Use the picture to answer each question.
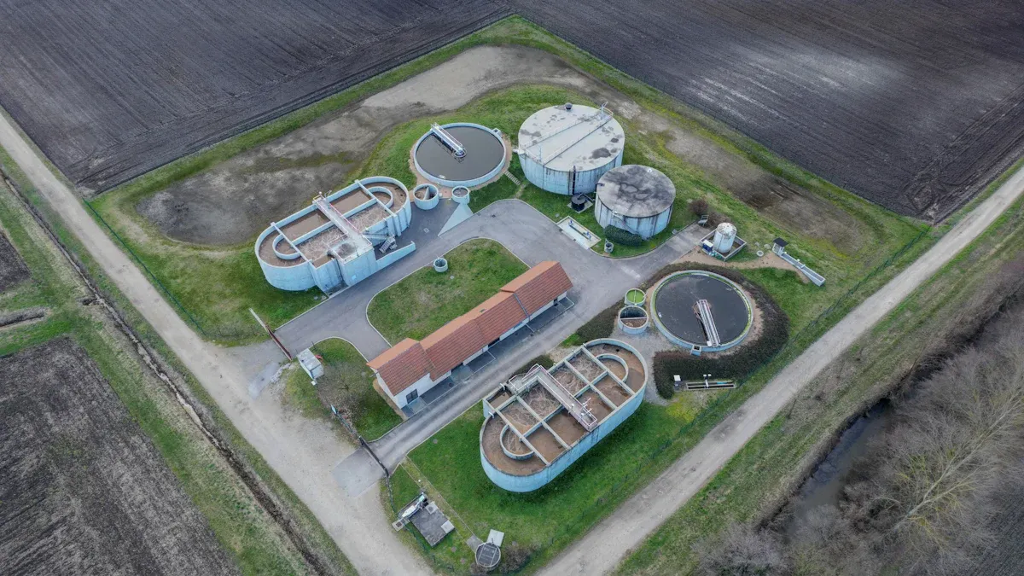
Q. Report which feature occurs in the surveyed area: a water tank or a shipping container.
water tank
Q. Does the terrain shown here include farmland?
Yes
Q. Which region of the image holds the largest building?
center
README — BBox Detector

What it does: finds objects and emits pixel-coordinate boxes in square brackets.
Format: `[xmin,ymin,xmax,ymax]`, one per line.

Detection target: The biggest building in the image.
[367,261,576,420]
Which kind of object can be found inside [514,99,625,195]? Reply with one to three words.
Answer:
storage tank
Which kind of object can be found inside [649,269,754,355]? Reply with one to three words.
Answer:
water tank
